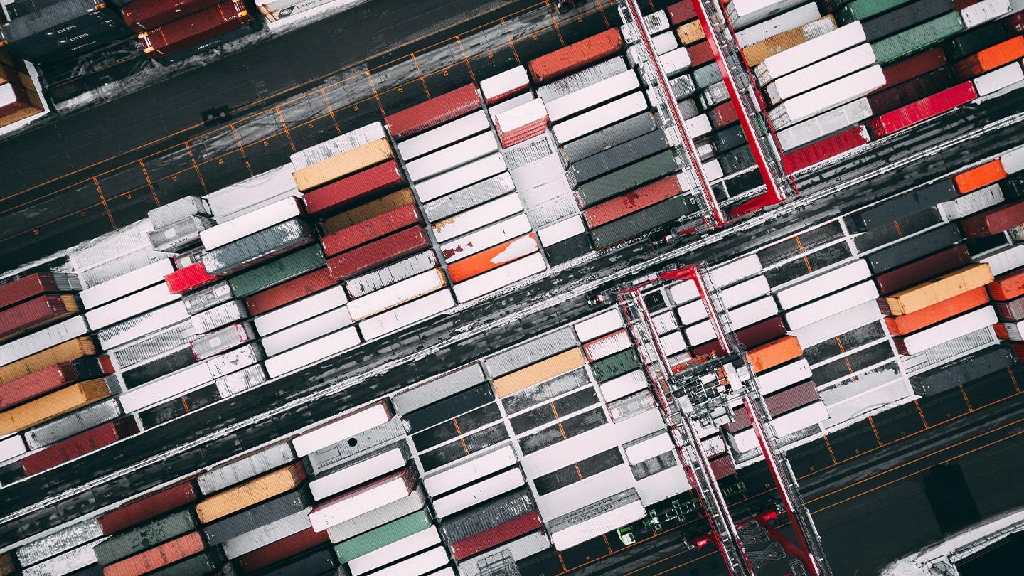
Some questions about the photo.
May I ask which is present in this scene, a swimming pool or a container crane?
container crane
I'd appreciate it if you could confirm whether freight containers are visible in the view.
Yes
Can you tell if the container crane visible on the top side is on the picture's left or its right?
right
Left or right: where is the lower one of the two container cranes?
right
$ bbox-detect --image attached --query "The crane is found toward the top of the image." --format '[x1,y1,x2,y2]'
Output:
[554,0,804,252]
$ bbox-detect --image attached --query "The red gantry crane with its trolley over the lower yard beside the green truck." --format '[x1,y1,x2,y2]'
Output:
[582,255,846,576]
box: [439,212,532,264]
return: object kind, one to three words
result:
shipping container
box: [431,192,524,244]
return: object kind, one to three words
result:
shipping container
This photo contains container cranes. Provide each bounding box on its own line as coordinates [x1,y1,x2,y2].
[554,0,804,252]
[582,255,846,576]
